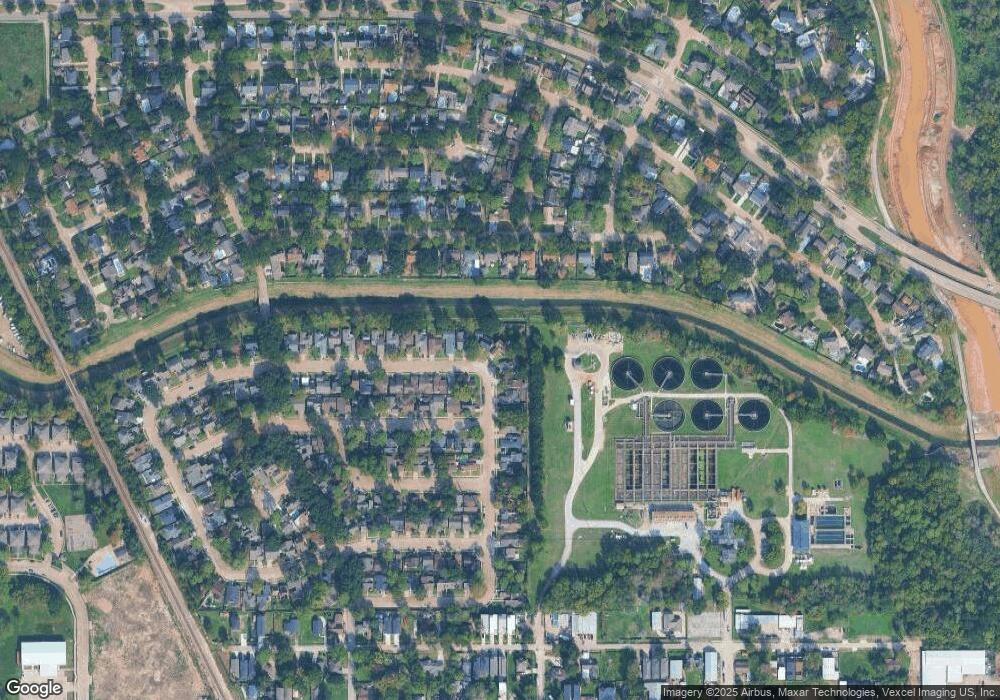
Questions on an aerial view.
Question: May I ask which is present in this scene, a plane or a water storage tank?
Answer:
water storage tank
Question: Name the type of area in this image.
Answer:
residential area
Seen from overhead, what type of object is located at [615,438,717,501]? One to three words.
water tank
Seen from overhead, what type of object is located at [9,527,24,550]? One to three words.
house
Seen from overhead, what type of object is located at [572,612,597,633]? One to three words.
building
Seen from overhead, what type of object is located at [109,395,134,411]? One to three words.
house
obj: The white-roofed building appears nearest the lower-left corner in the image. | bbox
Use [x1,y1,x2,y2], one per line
[20,642,66,677]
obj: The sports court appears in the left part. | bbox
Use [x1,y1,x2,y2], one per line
[65,514,97,552]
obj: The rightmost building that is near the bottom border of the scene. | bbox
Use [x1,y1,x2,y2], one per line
[922,650,986,700]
